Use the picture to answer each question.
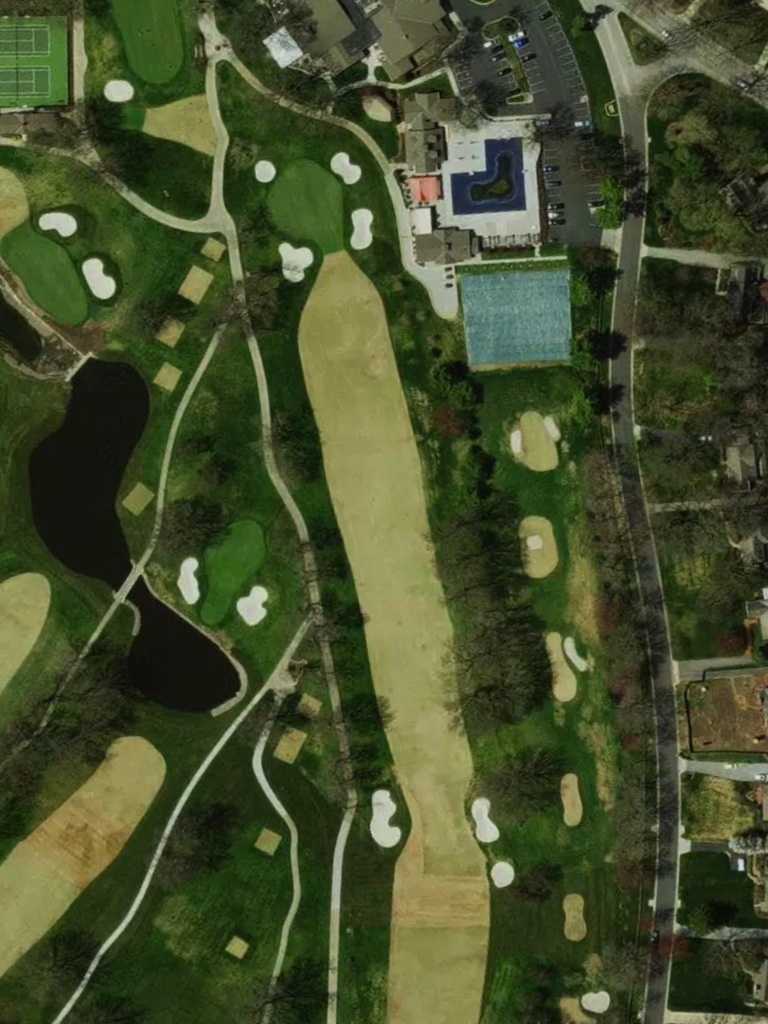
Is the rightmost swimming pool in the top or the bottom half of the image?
top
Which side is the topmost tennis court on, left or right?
left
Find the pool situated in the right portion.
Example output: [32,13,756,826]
[451,137,527,215]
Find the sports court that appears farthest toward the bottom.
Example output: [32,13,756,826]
[460,268,572,371]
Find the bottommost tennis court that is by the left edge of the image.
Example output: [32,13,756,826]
[0,61,67,106]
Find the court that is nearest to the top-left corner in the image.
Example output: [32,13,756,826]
[0,16,67,61]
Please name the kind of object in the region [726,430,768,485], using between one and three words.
house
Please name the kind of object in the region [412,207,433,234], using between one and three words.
building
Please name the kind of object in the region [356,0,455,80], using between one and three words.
building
